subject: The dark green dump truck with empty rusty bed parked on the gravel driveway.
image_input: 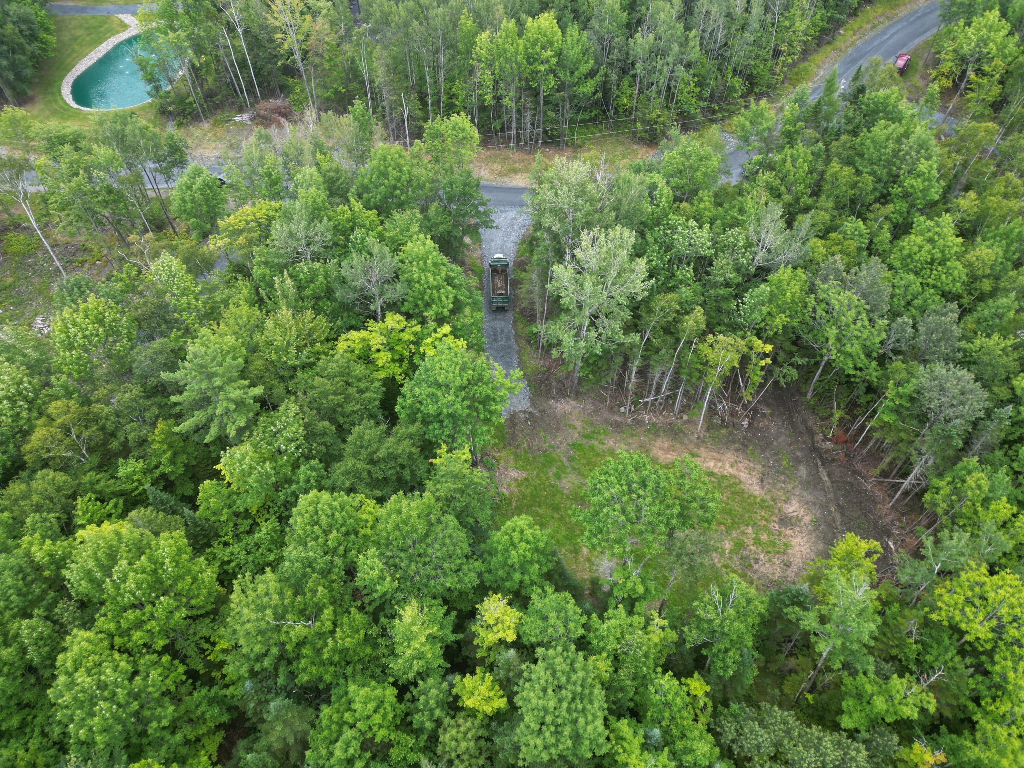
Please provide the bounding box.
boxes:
[490,254,509,310]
